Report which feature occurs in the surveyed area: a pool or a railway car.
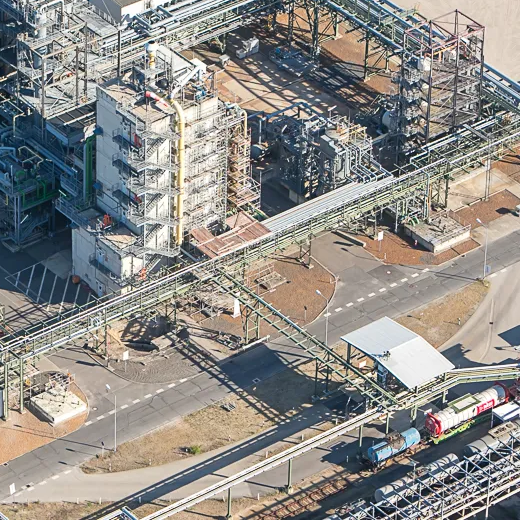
railway car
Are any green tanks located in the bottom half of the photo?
No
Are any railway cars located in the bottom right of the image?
Yes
